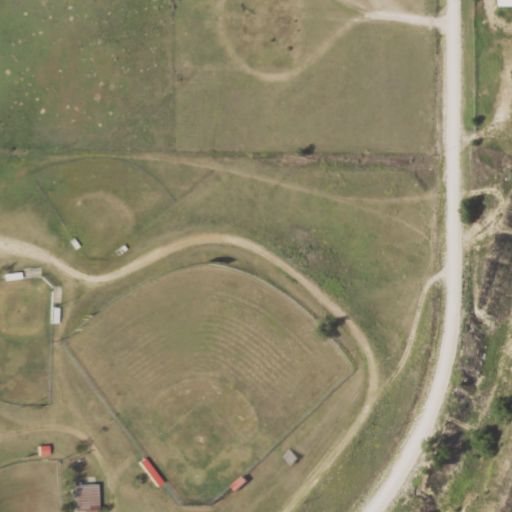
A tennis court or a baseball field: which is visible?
baseball field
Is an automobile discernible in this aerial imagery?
No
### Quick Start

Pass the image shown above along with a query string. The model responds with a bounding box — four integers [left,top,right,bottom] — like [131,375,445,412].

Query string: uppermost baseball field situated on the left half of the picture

[34,158,176,259]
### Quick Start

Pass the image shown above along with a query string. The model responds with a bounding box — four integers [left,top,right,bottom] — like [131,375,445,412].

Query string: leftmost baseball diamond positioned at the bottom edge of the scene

[0,460,60,512]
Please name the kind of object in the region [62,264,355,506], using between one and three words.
baseball field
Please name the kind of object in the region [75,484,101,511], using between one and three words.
building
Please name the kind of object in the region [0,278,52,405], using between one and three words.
baseball field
